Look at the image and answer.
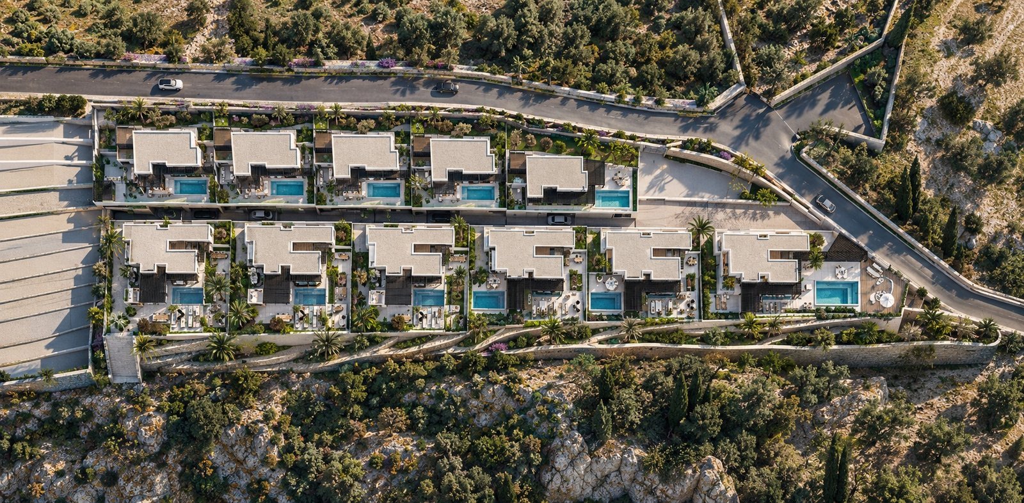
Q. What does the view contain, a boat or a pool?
pool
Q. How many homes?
11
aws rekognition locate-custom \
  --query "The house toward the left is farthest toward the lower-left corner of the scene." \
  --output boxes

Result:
[120,221,216,307]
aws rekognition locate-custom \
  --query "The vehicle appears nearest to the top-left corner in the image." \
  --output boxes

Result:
[158,78,182,91]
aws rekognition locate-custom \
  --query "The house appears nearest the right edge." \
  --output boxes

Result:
[718,232,813,317]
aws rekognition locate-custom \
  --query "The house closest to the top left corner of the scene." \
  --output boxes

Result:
[115,126,215,193]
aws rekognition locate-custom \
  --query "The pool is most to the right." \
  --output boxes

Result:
[812,280,863,306]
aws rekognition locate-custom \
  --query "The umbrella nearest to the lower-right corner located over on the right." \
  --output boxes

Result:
[880,294,894,307]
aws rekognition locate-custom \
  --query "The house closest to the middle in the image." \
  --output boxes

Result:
[486,227,578,315]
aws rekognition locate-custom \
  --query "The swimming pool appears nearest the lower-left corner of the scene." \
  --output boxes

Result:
[168,286,204,305]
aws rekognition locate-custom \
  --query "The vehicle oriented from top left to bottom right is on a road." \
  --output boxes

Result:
[814,195,837,213]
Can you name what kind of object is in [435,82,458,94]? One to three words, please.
vehicle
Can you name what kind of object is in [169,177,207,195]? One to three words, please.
swimming pool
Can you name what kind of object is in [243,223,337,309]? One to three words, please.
house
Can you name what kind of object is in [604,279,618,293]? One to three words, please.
umbrella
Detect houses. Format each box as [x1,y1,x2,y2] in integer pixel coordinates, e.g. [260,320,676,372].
[243,223,337,309]
[413,135,514,201]
[120,221,216,307]
[315,131,415,197]
[486,227,578,315]
[214,129,314,195]
[718,232,813,317]
[508,151,605,209]
[603,230,696,316]
[115,126,215,193]
[365,224,458,311]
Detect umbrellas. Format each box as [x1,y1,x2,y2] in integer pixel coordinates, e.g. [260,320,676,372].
[604,279,618,293]
[880,294,894,307]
